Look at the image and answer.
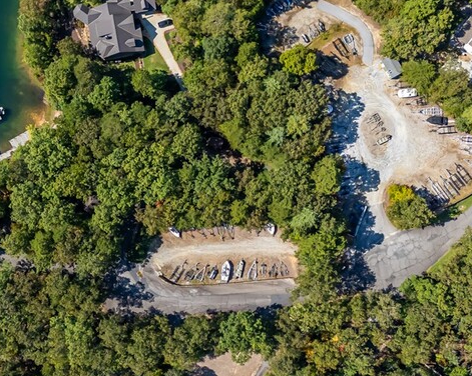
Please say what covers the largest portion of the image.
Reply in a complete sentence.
The largest share of the image is taken up by trees.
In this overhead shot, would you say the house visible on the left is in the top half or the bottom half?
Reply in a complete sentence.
It is in the top half that the house visible on the left appears.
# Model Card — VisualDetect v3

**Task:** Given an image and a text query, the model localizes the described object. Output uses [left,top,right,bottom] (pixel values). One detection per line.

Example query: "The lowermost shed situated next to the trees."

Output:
[378,56,402,81]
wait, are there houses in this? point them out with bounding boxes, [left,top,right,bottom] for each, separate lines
[451,19,472,56]
[72,0,158,66]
